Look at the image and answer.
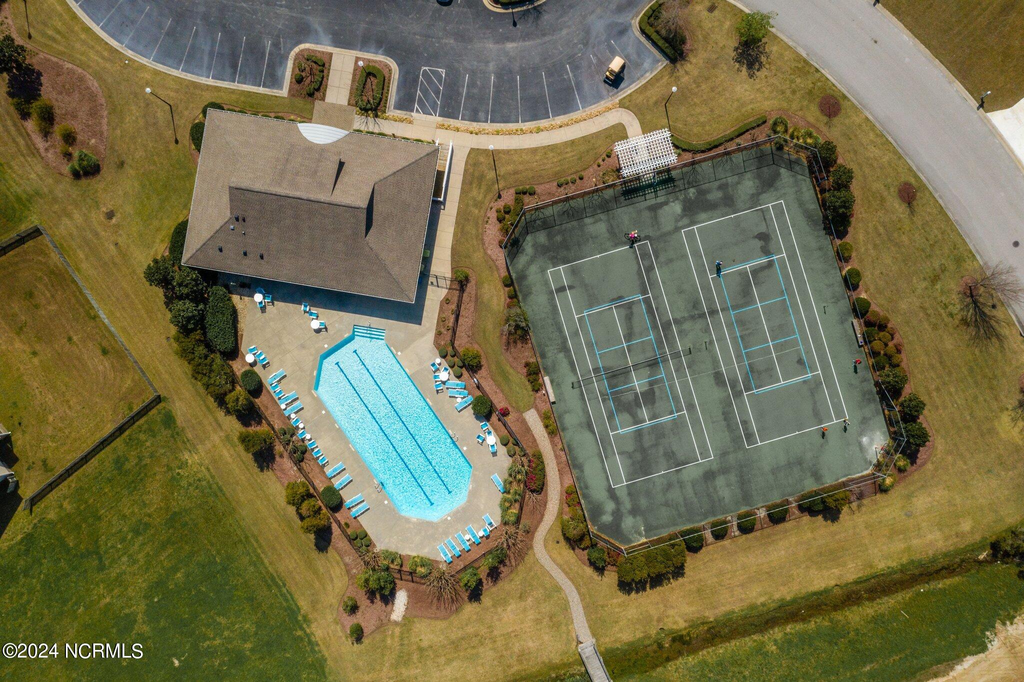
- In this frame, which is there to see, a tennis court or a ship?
tennis court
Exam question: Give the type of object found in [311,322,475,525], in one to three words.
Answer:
swimming pool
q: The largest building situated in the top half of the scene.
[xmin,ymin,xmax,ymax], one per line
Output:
[181,108,441,304]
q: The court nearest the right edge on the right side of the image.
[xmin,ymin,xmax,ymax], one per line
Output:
[682,201,848,448]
